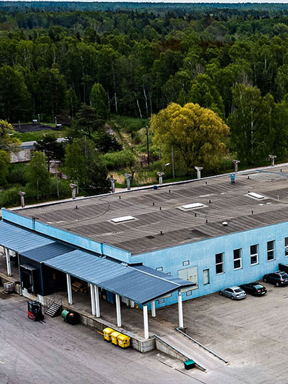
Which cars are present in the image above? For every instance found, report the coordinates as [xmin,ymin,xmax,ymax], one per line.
[241,282,266,296]
[263,271,288,287]
[219,287,247,301]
